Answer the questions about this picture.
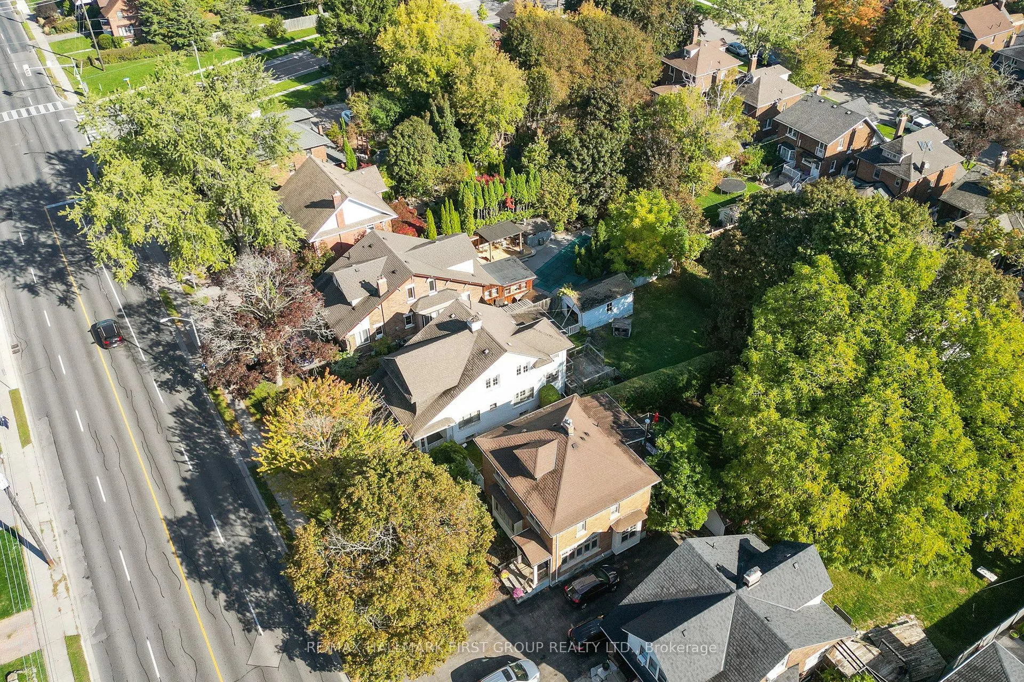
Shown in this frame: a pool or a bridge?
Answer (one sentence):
This aerial view contains a pool.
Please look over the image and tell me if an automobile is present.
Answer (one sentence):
Yes, I can see an automobile in this picture.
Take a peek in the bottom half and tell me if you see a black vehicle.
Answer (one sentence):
Yes, a black vehicle shows up in the bottom half.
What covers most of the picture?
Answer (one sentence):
For the most part, this view shows trees.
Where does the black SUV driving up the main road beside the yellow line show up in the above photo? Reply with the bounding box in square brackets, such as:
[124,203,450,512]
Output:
[93,318,124,350]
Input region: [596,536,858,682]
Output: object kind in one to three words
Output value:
house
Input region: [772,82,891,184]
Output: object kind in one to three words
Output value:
house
